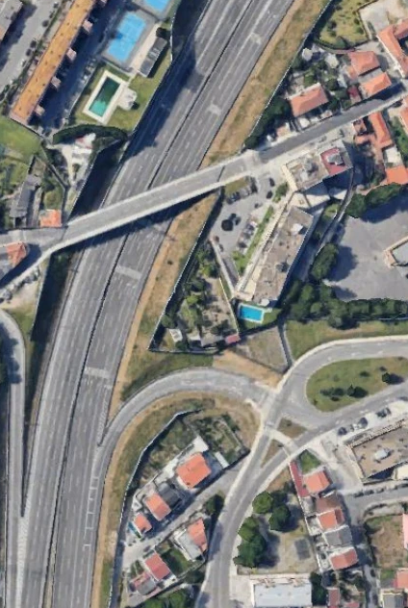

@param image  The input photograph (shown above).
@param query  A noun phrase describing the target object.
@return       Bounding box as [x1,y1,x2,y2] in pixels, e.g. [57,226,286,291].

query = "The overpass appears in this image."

[55,151,266,247]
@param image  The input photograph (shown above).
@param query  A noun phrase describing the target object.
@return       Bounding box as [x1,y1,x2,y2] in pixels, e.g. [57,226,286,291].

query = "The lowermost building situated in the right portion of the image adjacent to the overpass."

[250,206,313,305]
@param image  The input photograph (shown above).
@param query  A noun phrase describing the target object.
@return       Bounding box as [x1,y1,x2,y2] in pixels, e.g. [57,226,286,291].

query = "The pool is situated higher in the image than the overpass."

[80,67,130,121]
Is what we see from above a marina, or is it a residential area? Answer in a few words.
residential area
